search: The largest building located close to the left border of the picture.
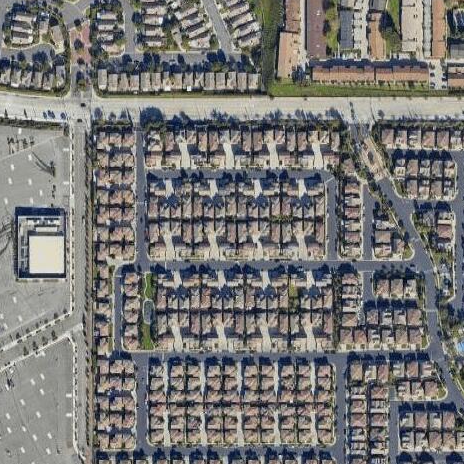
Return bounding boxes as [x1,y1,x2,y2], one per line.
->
[16,216,66,281]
